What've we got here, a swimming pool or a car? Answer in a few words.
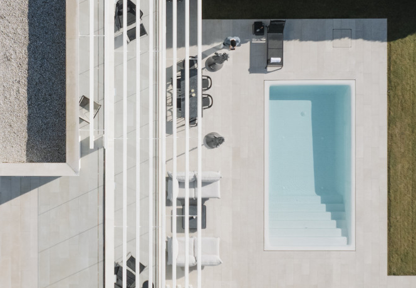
swimming pool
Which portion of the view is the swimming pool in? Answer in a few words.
right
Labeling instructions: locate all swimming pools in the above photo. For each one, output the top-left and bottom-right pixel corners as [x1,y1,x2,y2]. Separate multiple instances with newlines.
[264,80,356,250]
